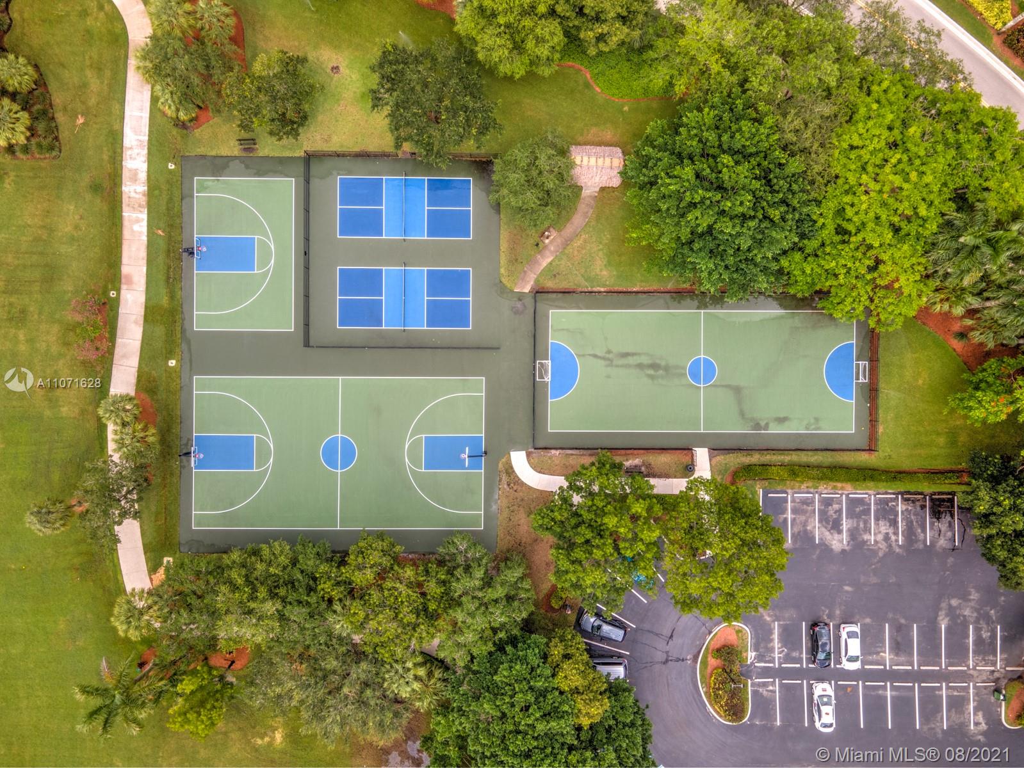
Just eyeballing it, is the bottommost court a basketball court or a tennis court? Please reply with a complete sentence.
The bottommost court can be classified as a basketball court.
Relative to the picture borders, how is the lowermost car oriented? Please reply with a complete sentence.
Seen from above, the lowermost car lies from top to bottom.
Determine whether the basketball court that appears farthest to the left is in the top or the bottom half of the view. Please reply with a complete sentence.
You can find the basketball court that appears farthest to the left in the top half.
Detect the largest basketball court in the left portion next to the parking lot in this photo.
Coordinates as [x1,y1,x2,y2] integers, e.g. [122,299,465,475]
[193,377,485,530]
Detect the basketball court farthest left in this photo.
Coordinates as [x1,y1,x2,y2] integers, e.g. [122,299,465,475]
[194,178,294,331]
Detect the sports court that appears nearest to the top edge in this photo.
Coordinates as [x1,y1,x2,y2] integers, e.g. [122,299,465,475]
[337,177,472,239]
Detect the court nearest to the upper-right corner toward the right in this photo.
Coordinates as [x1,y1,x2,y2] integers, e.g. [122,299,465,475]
[548,310,856,433]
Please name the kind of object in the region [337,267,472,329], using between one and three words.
sports court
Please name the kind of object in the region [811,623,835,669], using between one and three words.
car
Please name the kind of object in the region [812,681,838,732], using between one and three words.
car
